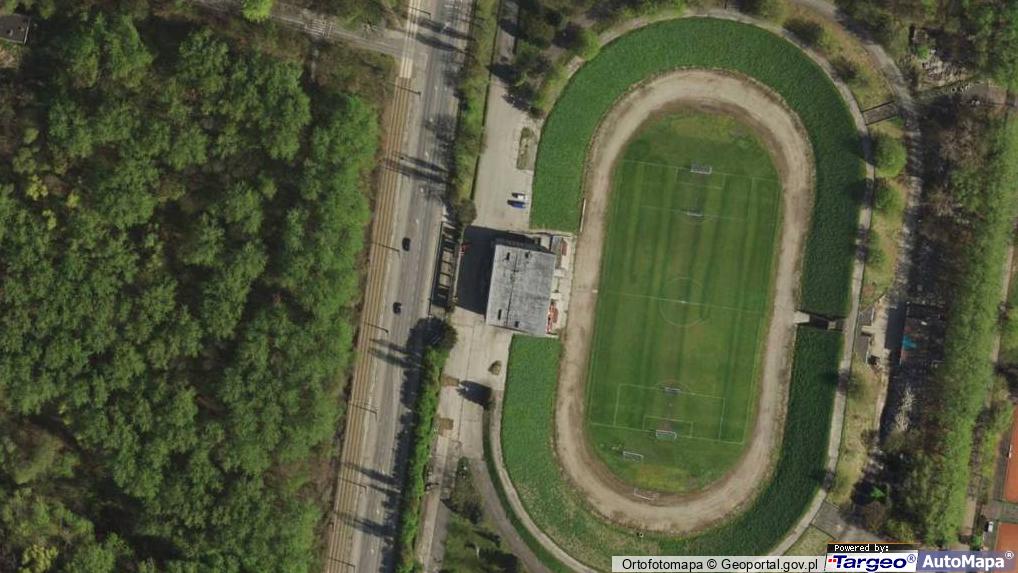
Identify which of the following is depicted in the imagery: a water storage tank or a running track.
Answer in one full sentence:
Of the two, only a running track appears.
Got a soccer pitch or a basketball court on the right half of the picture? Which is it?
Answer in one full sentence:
The feature located on the right half of the picture is a soccer pitch.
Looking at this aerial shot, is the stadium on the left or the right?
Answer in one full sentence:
The stadium sits on the right side.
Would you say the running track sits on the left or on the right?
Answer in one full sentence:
The running track sits on the right side.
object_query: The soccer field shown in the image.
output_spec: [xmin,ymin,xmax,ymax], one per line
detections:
[581,101,785,504]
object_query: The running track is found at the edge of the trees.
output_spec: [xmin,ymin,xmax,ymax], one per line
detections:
[552,68,814,536]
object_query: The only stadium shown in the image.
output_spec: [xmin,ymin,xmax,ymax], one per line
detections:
[500,16,866,573]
